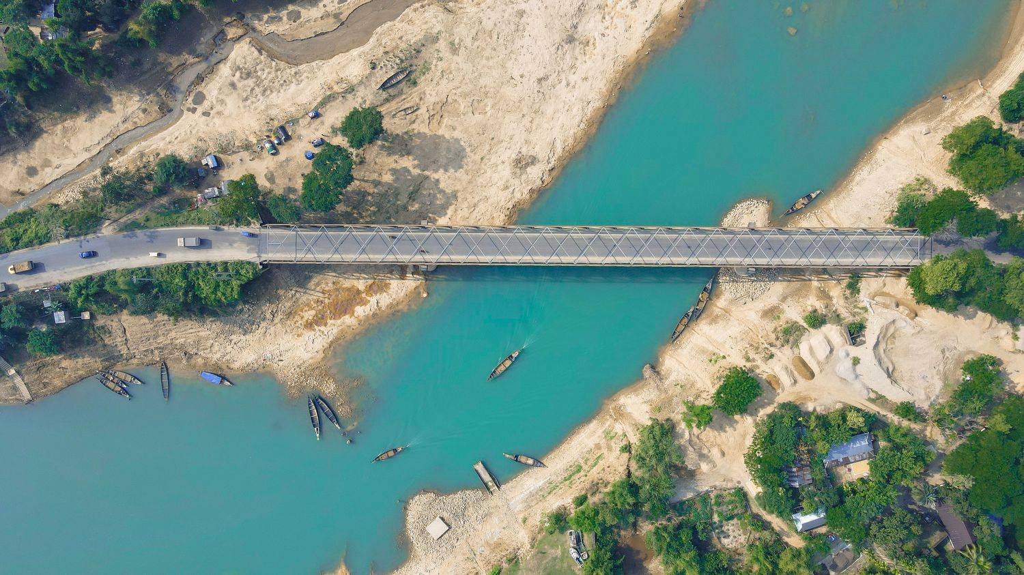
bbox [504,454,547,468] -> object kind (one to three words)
boat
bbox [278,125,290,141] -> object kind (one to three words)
vehicle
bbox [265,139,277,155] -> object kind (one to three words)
vehicle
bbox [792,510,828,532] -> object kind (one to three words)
house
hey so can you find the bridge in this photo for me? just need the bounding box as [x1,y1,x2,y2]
[261,221,930,272]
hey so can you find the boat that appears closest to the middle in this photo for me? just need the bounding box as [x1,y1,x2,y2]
[486,348,525,382]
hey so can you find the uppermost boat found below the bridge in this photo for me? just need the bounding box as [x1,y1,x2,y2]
[696,277,714,321]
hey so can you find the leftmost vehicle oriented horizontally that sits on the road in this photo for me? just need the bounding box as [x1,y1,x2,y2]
[6,261,32,275]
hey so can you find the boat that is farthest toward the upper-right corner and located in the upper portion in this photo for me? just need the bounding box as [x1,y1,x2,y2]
[786,190,823,215]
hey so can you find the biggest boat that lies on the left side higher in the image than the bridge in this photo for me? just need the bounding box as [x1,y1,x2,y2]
[375,69,410,89]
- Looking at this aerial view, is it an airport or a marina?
marina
